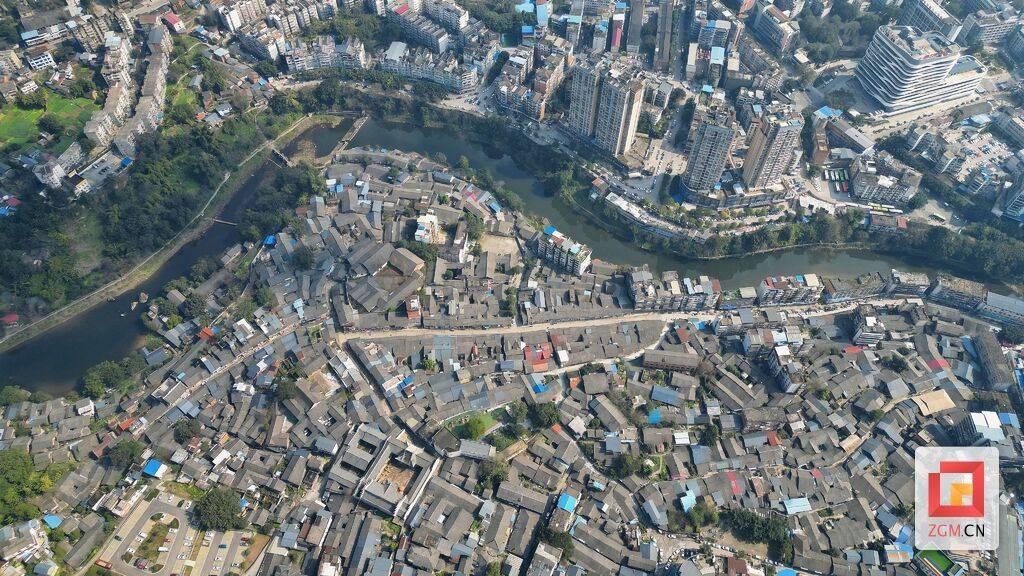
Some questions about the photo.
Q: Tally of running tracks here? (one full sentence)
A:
The picture shows no running tracks.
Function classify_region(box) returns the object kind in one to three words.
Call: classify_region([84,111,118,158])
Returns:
building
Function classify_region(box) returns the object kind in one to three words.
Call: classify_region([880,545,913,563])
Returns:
house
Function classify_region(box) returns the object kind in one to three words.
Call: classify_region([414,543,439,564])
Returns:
house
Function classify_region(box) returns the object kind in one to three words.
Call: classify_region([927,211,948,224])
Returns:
vehicle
